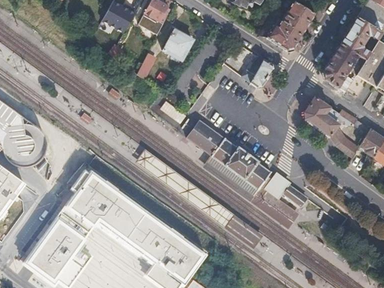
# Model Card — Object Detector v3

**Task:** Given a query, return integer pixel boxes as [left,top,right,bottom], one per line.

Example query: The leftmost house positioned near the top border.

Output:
[102,0,136,34]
